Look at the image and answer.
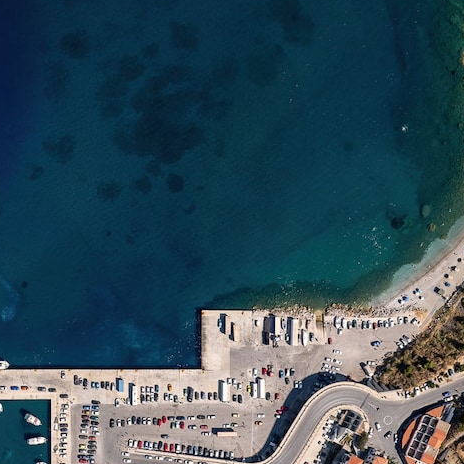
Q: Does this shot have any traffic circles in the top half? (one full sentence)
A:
No, looking in the top half, there is no traffic circle.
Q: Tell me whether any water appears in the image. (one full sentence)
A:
Yes, water can be seen from above here.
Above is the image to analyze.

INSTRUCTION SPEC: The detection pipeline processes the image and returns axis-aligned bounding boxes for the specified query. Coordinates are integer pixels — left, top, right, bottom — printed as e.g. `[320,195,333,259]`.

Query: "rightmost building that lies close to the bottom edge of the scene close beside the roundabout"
[399,405,450,464]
